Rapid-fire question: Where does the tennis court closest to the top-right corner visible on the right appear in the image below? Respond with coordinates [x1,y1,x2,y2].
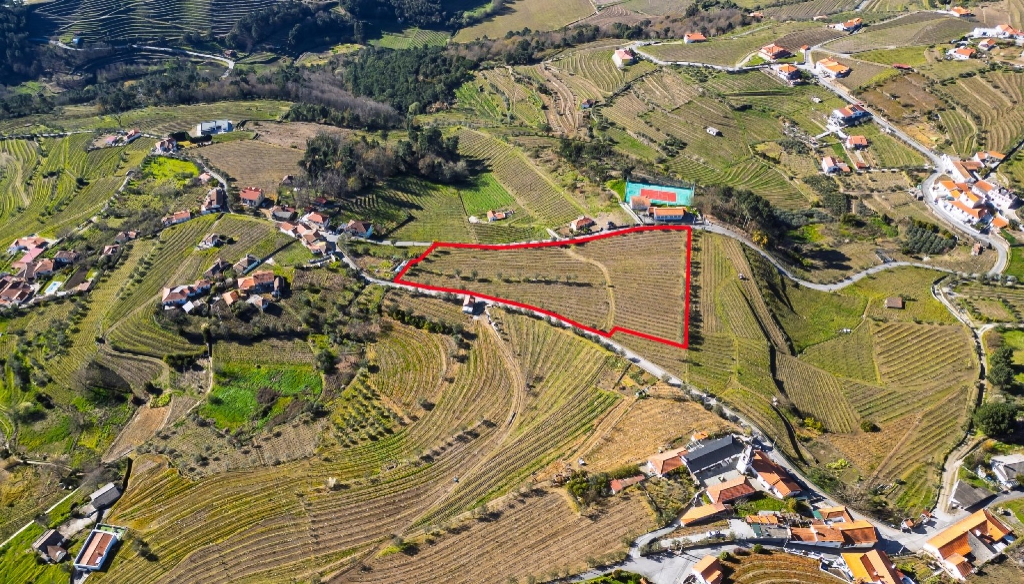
[626,183,692,205]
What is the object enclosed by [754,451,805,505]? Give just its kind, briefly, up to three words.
house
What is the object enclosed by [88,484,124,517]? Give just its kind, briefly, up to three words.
building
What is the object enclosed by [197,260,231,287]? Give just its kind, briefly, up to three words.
house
